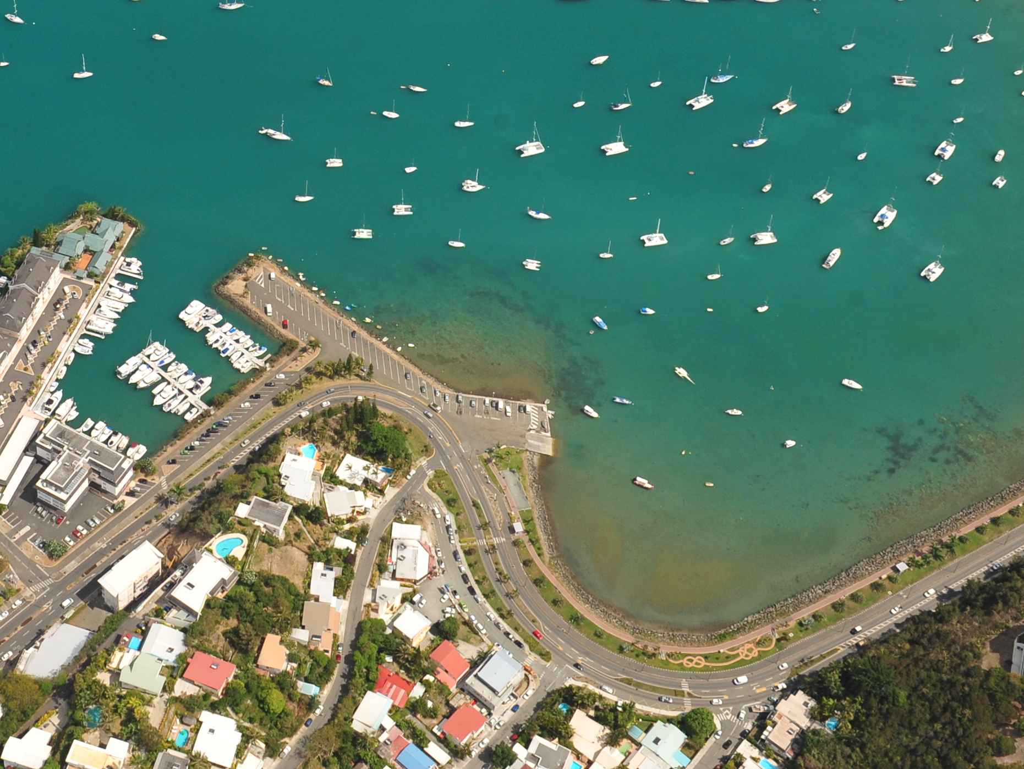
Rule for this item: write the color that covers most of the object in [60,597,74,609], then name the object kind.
white vehicle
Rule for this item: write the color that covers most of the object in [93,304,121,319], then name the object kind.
white boat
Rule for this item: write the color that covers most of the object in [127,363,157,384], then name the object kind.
white boat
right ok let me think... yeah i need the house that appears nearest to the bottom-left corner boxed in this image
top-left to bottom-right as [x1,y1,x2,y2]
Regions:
[1,728,52,769]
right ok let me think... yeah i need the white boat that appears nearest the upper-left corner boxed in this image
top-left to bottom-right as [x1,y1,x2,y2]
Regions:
[3,1,25,23]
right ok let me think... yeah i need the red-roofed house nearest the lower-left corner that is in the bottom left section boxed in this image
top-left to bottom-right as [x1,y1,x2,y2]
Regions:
[183,651,234,697]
